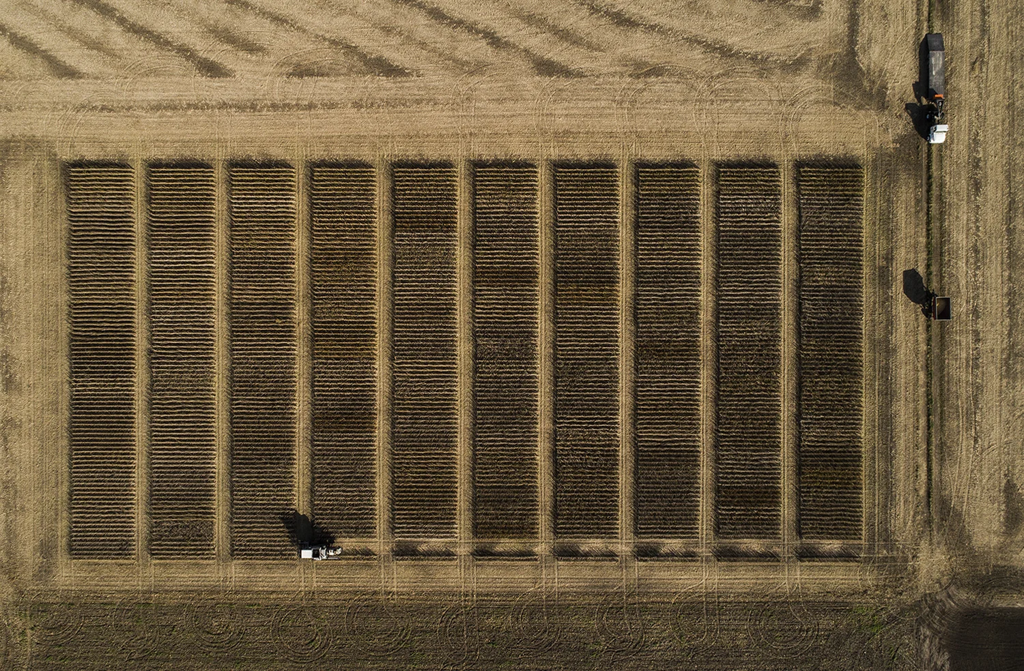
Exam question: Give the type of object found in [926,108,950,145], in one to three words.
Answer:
truck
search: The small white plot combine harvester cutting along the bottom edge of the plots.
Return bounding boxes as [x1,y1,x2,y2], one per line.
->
[297,541,342,561]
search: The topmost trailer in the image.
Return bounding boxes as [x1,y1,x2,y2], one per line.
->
[927,35,944,117]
